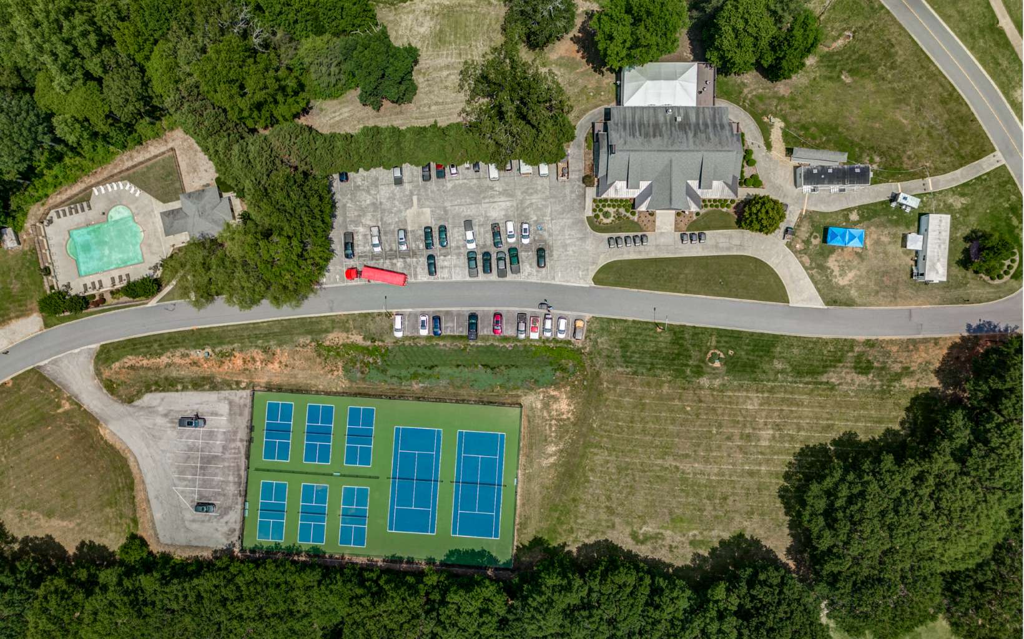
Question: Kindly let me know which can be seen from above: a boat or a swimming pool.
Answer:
swimming pool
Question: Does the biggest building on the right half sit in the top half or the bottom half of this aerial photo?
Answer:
top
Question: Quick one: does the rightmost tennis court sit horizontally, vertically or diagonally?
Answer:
vertically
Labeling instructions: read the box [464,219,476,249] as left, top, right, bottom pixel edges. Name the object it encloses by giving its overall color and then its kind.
white vehicle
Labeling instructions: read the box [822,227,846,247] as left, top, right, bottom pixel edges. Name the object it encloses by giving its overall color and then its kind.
blue tent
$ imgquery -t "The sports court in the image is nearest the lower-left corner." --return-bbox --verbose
[257,481,288,542]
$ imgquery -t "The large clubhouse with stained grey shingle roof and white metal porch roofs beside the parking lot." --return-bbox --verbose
[592,106,742,211]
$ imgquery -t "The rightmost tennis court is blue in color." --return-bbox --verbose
[451,430,506,539]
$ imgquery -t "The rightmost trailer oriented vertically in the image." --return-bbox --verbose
[916,214,950,284]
